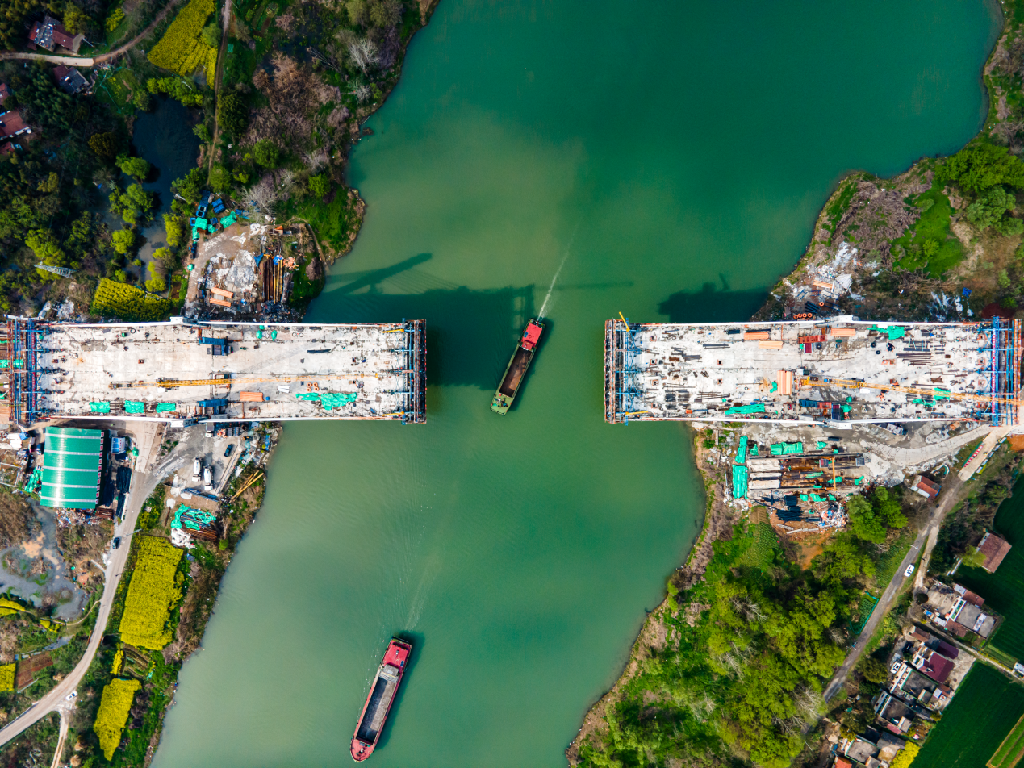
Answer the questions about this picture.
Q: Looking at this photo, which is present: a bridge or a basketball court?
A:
bridge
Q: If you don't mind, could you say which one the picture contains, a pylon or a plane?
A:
pylon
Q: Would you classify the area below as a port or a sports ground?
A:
port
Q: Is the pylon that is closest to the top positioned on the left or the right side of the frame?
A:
left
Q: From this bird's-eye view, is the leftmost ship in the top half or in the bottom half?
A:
bottom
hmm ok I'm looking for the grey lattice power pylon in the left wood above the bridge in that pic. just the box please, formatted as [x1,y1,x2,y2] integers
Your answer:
[30,258,79,283]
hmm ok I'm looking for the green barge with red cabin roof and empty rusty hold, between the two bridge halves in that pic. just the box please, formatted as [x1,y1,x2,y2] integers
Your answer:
[491,319,544,415]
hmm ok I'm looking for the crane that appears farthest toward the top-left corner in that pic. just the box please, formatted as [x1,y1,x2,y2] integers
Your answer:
[104,370,378,391]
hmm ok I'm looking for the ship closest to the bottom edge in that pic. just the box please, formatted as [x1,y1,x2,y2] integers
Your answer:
[351,637,411,765]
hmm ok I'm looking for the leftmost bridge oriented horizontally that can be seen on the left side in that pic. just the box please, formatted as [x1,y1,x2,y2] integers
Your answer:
[31,319,410,431]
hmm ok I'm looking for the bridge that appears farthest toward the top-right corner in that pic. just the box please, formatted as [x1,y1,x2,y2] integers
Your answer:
[620,319,997,424]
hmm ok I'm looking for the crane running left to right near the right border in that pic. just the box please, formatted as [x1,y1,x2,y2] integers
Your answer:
[791,371,1024,399]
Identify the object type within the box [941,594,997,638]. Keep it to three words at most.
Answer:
house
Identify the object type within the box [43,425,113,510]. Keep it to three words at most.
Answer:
shed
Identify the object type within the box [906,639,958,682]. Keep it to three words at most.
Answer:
house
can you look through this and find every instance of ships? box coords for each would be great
[351,637,411,765]
[491,319,544,415]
